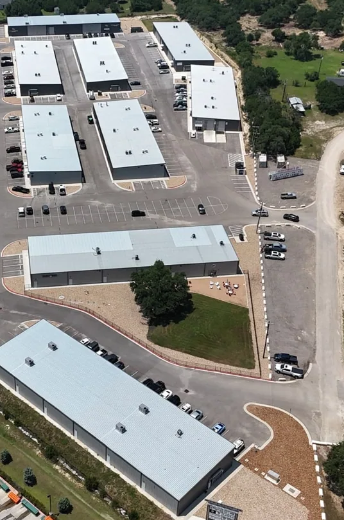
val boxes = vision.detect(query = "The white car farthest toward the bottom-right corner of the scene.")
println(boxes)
[230,437,248,455]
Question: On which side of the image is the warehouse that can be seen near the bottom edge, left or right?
left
